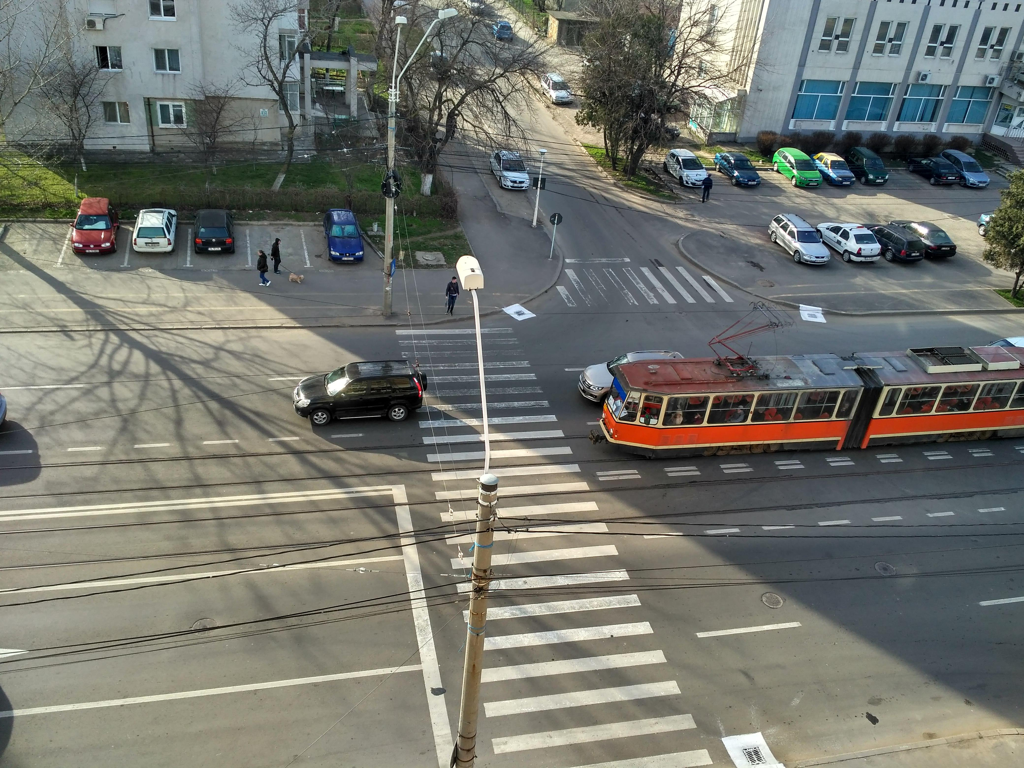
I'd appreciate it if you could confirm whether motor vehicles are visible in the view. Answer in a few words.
Yes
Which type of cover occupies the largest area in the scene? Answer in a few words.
paved ground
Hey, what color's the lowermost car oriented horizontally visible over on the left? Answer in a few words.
black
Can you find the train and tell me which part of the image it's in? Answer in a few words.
right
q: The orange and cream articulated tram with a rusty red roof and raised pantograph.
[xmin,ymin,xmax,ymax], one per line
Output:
[591,304,1024,460]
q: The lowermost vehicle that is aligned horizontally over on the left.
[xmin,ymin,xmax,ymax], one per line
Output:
[291,356,429,424]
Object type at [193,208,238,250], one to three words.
car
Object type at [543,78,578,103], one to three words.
car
